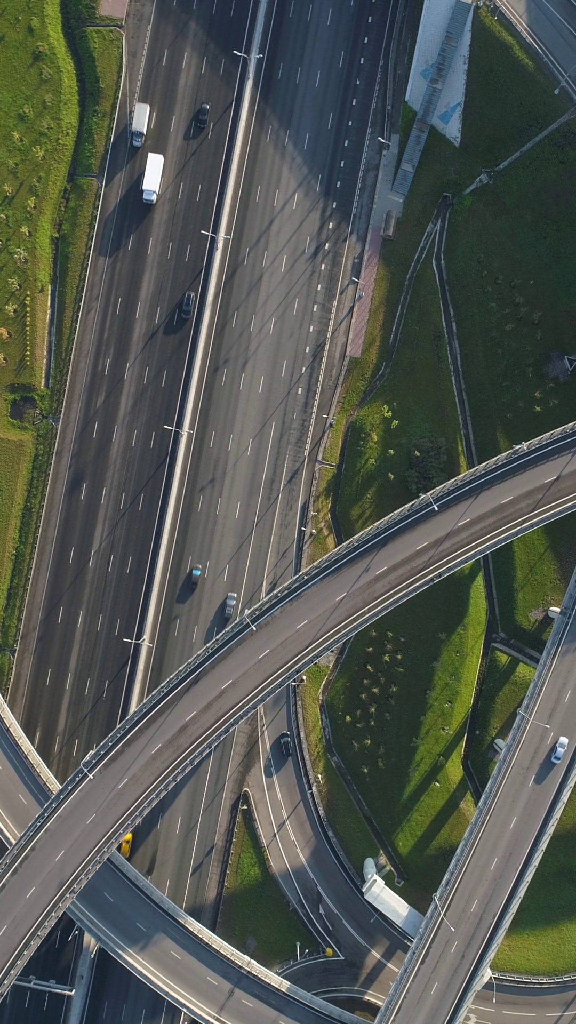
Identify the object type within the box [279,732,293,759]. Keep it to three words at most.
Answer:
car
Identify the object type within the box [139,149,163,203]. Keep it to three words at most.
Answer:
truck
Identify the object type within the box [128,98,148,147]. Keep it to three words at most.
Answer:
vehicle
